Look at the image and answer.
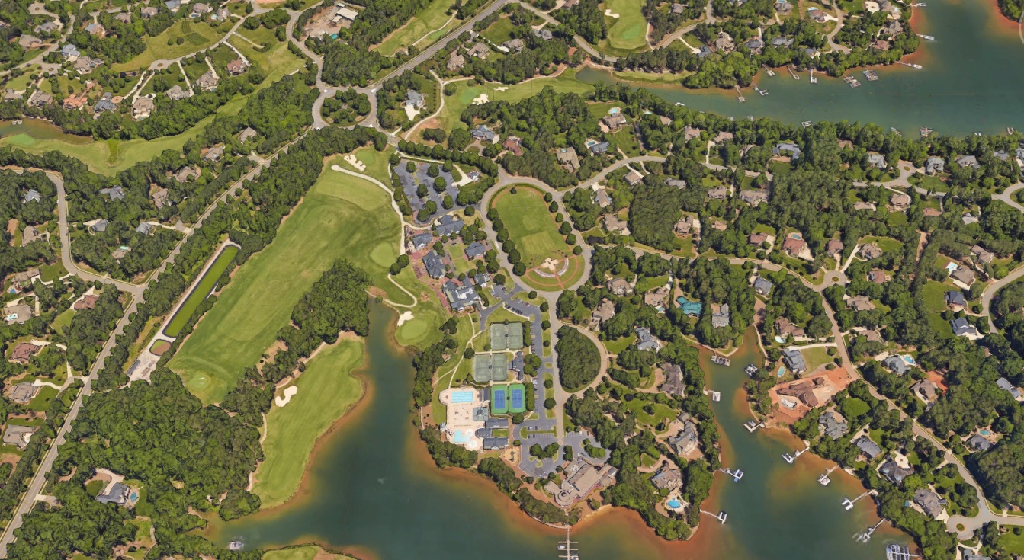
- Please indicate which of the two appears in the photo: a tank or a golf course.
golf course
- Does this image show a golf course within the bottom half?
Yes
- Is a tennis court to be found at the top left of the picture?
No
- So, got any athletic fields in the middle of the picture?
Yes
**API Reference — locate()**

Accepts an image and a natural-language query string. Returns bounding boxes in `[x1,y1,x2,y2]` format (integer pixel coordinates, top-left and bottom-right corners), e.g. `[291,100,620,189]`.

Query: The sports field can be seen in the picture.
[489,184,585,292]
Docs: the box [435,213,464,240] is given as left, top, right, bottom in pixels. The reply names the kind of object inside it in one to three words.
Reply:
building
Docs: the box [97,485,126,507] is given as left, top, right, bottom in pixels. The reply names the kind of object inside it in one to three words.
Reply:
house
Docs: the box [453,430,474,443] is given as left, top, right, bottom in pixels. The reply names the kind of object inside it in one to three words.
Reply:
swimming pool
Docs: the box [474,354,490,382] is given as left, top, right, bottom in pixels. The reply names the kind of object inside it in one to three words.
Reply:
tennis court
